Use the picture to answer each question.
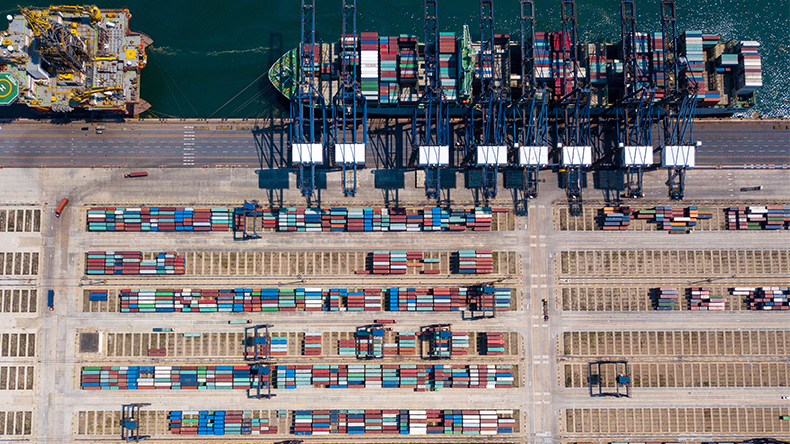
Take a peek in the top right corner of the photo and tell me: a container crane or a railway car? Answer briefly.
container crane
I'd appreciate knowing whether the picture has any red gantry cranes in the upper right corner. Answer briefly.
No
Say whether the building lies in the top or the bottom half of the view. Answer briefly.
bottom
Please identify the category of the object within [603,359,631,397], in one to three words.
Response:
container crane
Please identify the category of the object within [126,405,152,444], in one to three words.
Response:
container crane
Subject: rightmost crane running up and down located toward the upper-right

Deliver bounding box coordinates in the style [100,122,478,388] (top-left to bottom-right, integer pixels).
[628,2,703,199]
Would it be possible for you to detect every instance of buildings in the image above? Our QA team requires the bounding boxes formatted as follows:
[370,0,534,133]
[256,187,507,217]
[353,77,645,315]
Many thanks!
[79,332,105,353]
